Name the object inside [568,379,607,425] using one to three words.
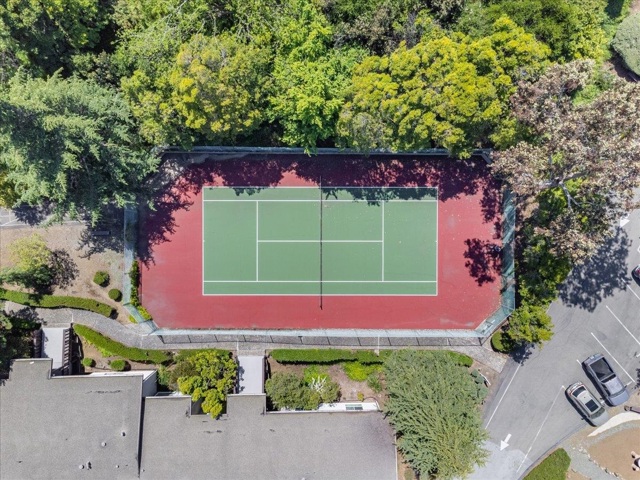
car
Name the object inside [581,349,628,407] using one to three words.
truck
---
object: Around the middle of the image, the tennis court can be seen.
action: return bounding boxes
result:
[137,154,502,330]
